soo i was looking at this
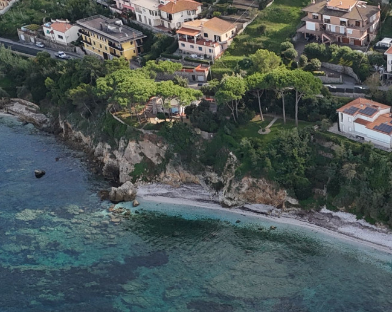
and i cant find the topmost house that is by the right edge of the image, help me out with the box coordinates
[298,0,387,48]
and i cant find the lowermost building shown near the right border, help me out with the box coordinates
[335,99,392,151]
